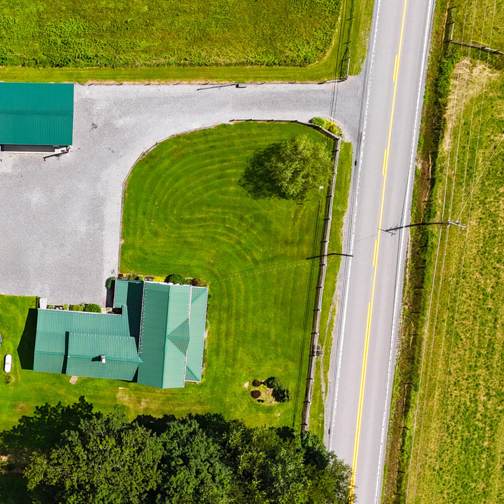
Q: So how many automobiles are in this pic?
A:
none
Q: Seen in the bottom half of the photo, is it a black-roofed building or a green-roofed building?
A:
green-roofed building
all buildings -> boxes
[33,278,209,389]
[0,82,74,160]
